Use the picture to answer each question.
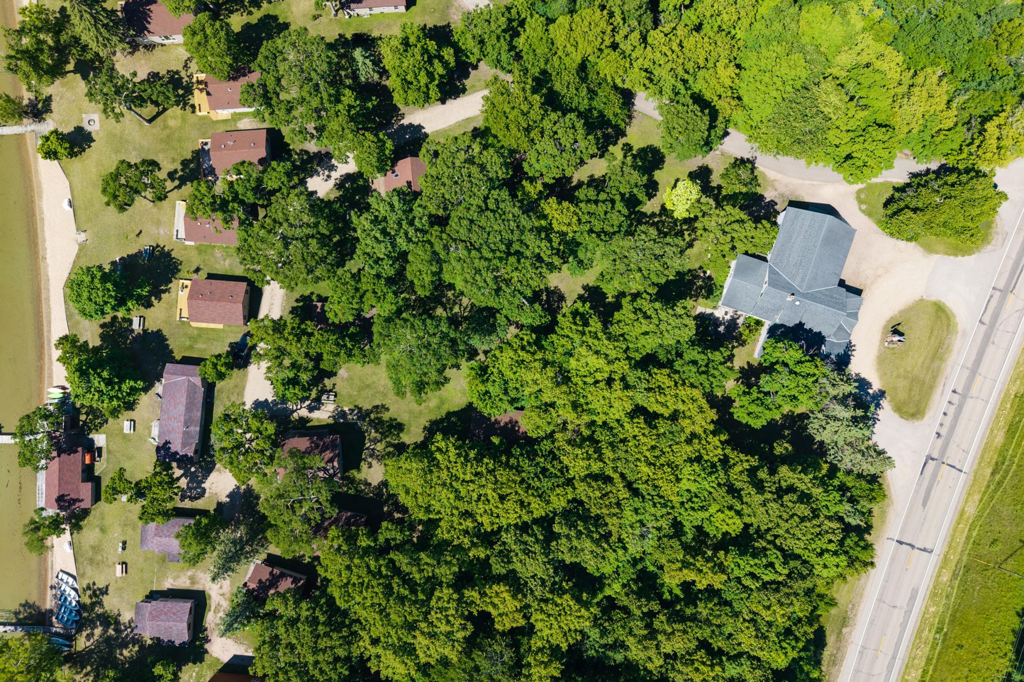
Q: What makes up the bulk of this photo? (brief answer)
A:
trees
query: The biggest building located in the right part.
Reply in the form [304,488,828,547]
[719,203,863,369]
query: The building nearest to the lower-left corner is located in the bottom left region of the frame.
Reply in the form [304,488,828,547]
[134,597,196,647]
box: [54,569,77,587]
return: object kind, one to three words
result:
boat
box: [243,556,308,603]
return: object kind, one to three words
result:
building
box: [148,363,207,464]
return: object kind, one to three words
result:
building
